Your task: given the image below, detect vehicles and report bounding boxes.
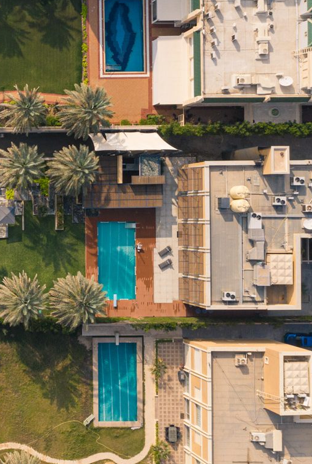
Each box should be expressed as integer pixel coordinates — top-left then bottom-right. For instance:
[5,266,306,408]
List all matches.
[284,333,312,347]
